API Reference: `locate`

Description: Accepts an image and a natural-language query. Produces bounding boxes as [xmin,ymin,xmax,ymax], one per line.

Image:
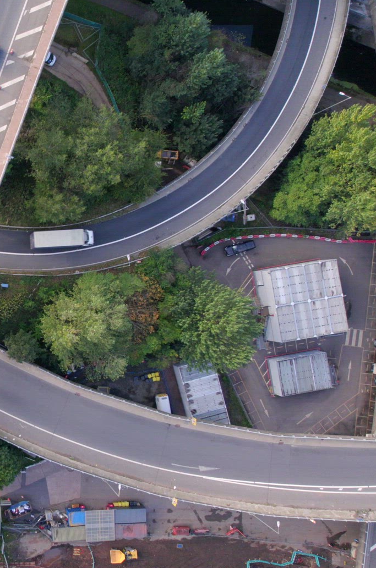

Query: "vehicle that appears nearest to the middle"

[222,239,257,256]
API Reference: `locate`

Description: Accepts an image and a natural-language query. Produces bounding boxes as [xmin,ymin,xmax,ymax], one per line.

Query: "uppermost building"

[253,258,349,345]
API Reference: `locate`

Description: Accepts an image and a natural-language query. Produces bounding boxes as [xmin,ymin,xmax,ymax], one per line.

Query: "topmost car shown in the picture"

[45,53,61,68]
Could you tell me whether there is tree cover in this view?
Yes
